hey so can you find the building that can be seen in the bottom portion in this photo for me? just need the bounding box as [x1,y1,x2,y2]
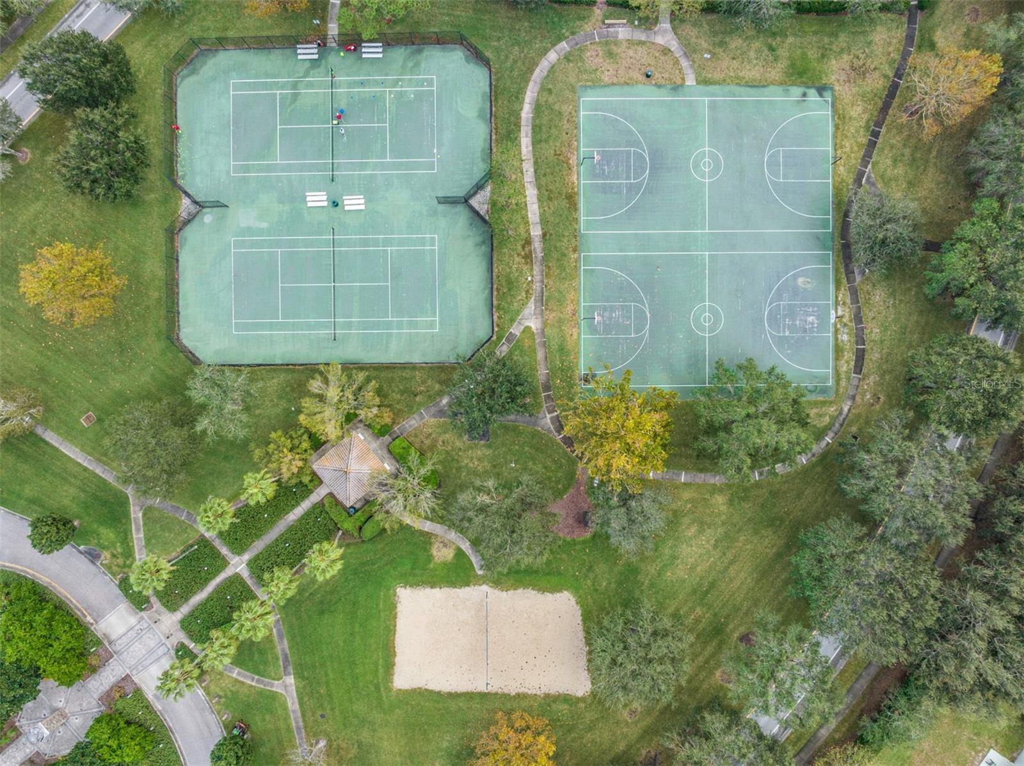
[313,431,389,508]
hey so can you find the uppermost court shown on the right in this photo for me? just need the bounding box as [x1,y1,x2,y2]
[579,86,834,242]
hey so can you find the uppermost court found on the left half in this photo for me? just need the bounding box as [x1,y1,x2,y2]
[177,43,490,205]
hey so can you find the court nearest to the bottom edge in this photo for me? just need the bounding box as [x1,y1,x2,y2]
[394,585,591,696]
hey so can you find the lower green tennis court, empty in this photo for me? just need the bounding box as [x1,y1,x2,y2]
[178,200,493,364]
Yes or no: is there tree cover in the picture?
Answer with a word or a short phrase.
Yes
